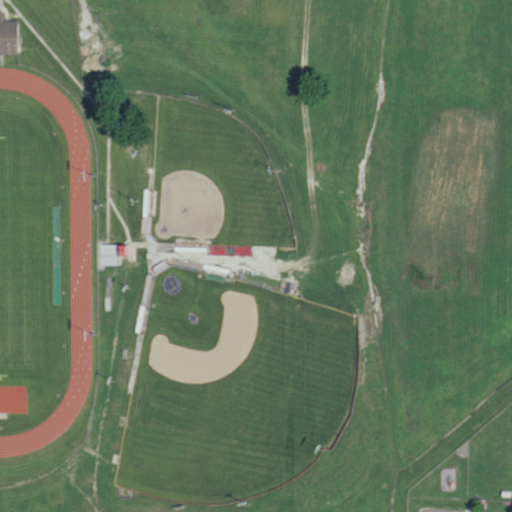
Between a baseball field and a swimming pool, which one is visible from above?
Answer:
baseball field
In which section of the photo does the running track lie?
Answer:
left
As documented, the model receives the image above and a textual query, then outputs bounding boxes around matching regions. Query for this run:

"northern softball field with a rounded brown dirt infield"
[150,95,298,250]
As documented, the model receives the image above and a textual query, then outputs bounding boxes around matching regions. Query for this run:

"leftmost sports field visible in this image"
[0,90,70,436]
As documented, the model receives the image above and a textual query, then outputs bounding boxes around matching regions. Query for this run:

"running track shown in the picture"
[0,70,91,458]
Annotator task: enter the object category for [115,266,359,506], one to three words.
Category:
baseball field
